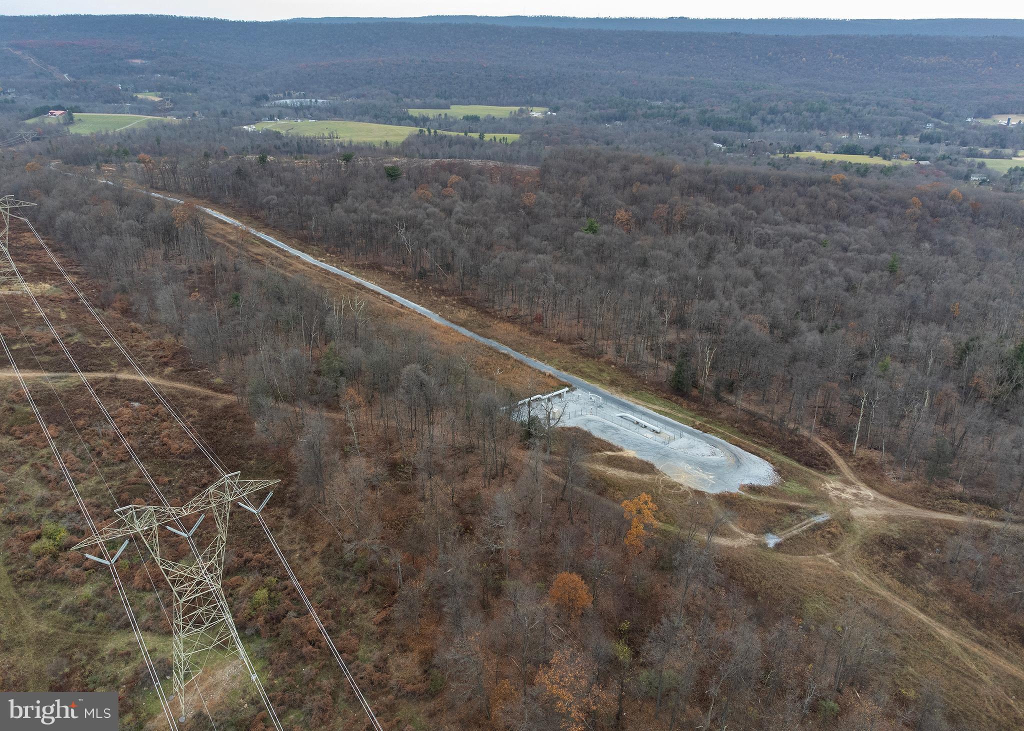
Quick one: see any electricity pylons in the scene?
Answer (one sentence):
Yes, an electricity pylon can be made out from above.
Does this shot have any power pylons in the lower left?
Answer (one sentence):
Yes, you'll find a power pylon in the lower left.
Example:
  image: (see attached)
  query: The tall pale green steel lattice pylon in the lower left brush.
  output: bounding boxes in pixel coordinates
[71,470,279,720]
